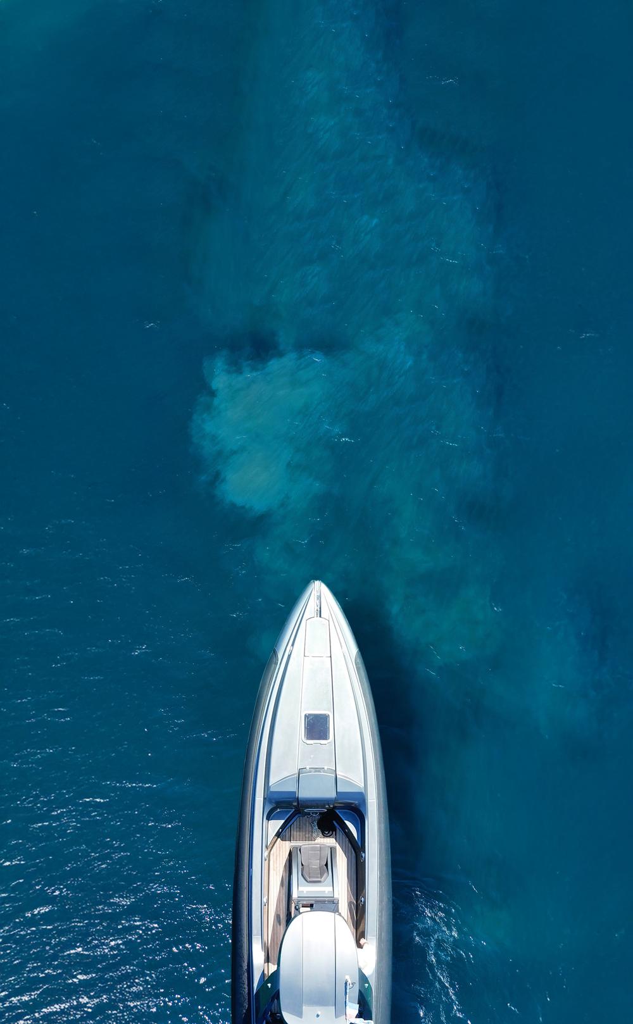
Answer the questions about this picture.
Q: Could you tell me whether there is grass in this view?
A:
No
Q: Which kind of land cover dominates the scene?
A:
water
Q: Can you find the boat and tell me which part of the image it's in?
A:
bottom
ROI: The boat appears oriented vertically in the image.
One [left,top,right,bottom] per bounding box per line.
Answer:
[232,580,391,1024]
